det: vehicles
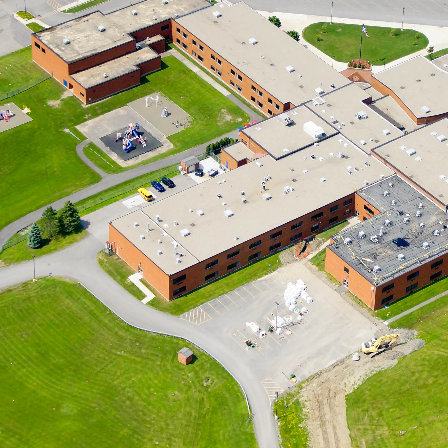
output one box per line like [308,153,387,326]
[159,175,177,187]
[136,187,154,200]
[358,330,404,359]
[150,181,166,192]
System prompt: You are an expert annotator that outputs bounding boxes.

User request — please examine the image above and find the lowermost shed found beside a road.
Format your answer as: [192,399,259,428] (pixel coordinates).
[174,345,196,366]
